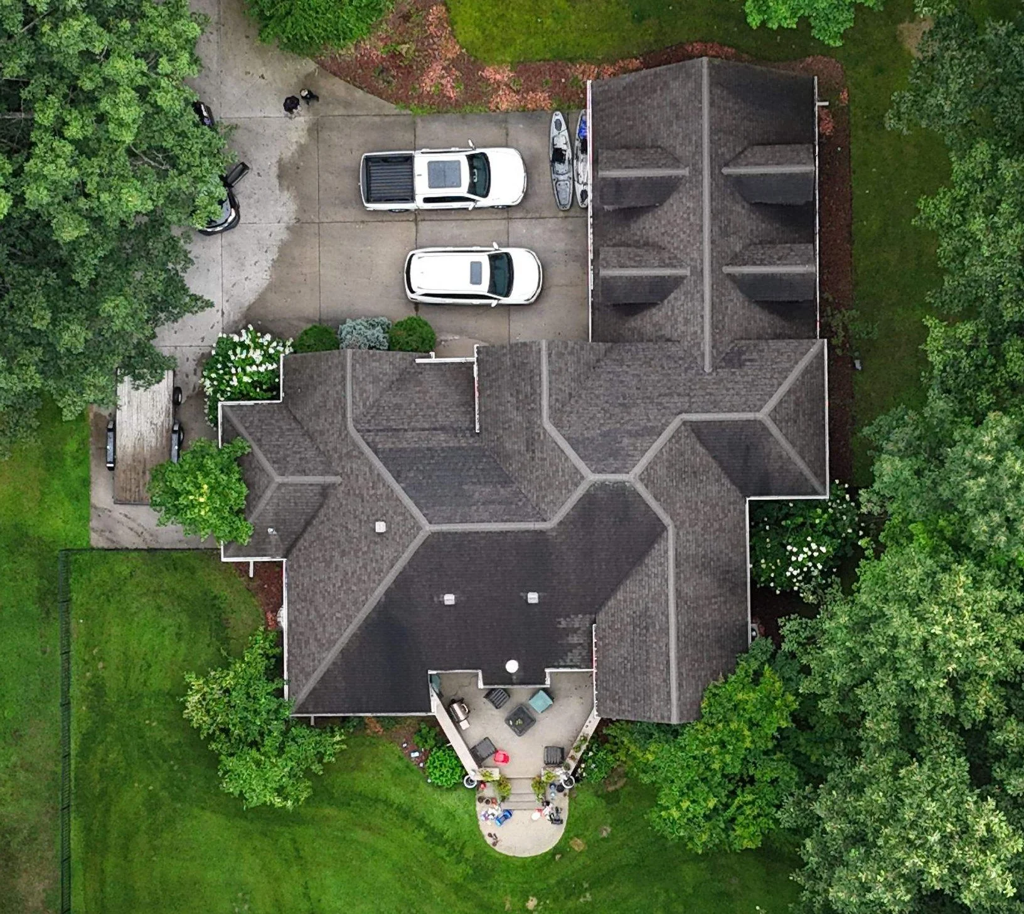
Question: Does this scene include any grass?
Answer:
Yes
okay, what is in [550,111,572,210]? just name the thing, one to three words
boat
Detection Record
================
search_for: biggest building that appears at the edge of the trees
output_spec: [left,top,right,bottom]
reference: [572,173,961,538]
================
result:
[217,57,832,725]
